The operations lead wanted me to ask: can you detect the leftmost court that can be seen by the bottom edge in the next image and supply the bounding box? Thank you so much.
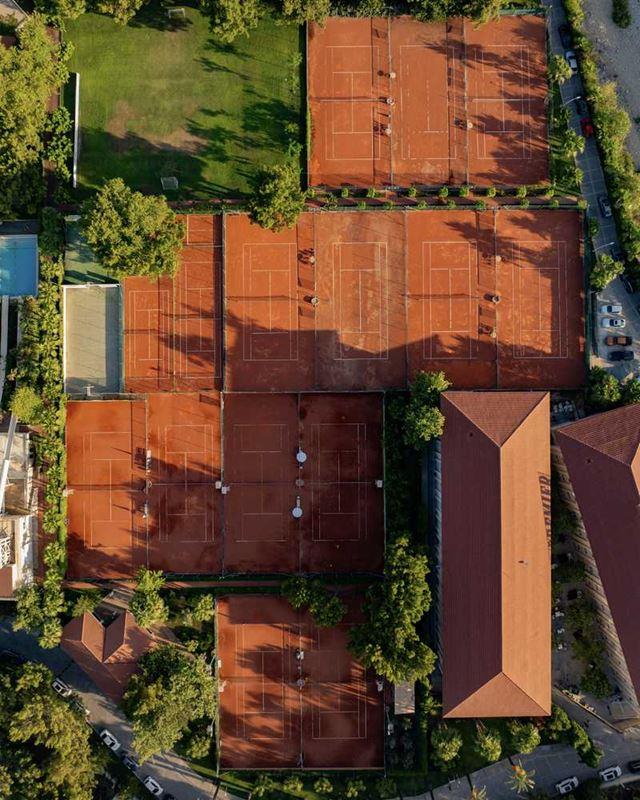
[218,596,301,770]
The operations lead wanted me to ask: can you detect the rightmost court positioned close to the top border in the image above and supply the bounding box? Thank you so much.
[467,16,548,186]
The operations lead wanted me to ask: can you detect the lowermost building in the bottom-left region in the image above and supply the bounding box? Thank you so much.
[59,602,159,705]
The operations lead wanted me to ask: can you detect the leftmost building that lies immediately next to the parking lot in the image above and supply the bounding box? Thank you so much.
[429,391,551,718]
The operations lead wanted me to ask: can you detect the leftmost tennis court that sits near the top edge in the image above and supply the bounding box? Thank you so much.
[309,16,391,186]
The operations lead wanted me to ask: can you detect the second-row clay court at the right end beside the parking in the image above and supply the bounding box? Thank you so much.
[497,210,586,390]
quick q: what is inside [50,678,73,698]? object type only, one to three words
car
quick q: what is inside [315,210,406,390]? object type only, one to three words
tennis court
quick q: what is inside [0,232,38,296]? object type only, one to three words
swimming pool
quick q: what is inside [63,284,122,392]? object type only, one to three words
sports court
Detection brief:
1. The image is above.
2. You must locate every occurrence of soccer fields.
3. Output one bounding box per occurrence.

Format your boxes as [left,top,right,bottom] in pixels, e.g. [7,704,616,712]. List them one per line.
[76,9,301,192]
